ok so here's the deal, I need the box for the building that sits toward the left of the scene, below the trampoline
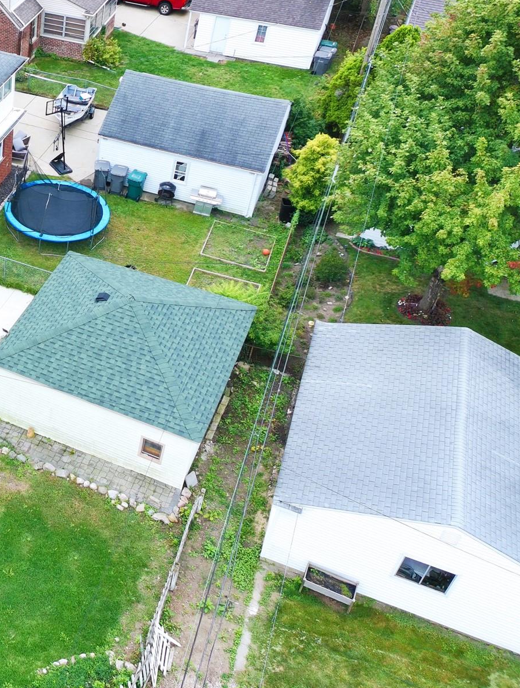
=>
[0,247,263,488]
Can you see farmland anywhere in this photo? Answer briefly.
No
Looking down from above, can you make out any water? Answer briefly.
No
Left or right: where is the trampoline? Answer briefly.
left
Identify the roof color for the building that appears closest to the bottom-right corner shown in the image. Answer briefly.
white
